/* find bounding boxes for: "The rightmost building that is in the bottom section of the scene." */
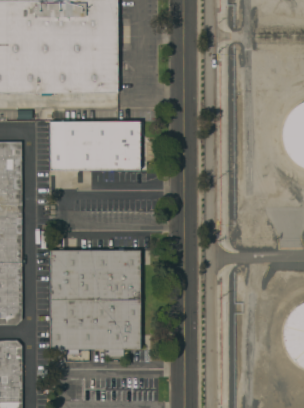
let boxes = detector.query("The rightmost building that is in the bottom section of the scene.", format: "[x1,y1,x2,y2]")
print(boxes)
[49,250,140,358]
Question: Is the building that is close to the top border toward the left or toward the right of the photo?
left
